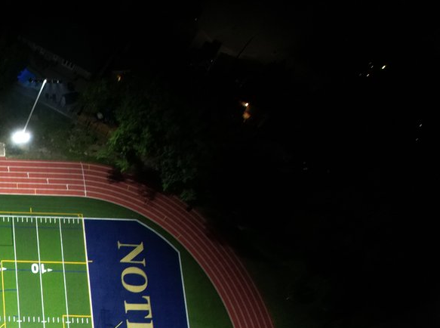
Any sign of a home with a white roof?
No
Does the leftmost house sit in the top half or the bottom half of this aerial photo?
top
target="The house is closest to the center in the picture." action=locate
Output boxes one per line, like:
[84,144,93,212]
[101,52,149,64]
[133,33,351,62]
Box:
[217,68,283,120]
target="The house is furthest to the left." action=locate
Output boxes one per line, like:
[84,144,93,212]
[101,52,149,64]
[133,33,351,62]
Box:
[18,7,104,83]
